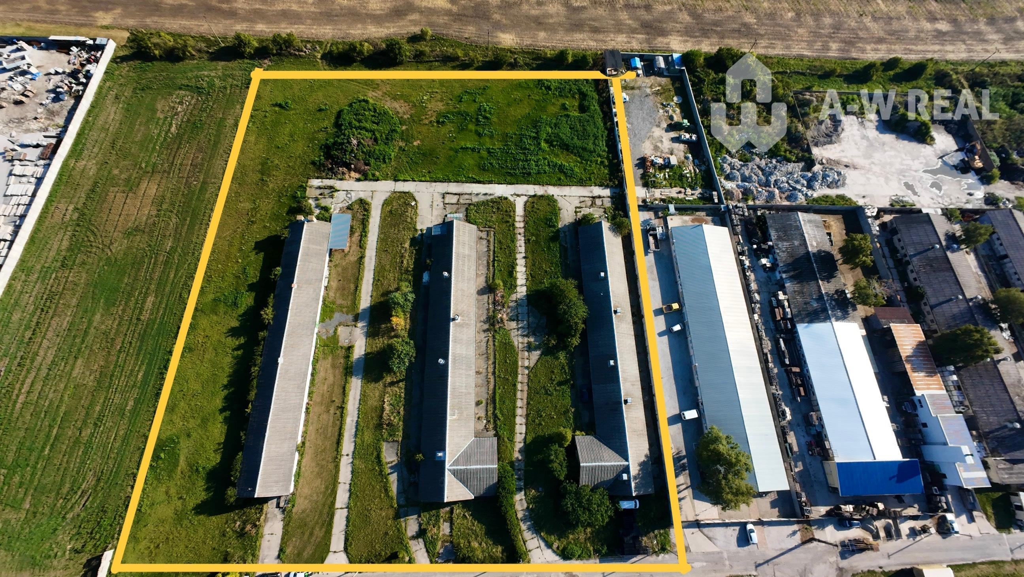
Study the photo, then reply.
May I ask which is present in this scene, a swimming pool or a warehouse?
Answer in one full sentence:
This aerial view contains a warehouse.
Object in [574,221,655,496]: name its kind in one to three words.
building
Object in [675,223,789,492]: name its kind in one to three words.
warehouse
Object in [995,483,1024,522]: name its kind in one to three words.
bus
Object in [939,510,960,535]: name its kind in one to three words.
car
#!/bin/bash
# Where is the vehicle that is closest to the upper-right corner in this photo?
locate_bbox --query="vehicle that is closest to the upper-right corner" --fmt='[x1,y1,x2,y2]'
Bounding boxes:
[966,145,985,170]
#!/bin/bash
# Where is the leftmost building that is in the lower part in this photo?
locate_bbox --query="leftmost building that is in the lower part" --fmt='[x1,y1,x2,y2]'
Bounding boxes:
[236,212,332,497]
